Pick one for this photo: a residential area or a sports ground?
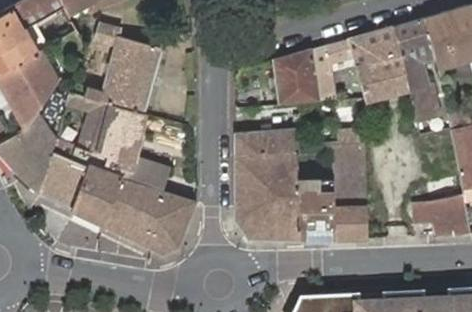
residential area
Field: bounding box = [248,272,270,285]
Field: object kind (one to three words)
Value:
vehicle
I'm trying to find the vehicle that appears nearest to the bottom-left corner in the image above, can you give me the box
[52,256,75,268]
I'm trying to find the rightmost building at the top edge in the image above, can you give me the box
[426,6,472,76]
